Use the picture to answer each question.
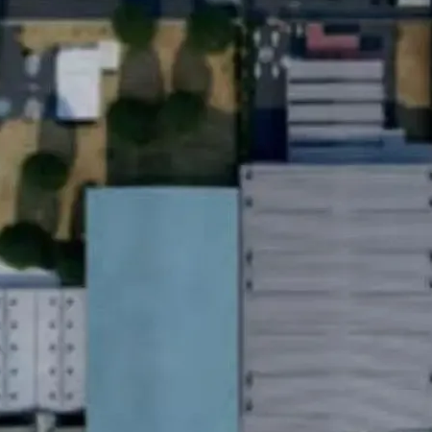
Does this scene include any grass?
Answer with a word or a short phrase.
Yes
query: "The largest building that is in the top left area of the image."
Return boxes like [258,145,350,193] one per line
[56,48,101,123]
